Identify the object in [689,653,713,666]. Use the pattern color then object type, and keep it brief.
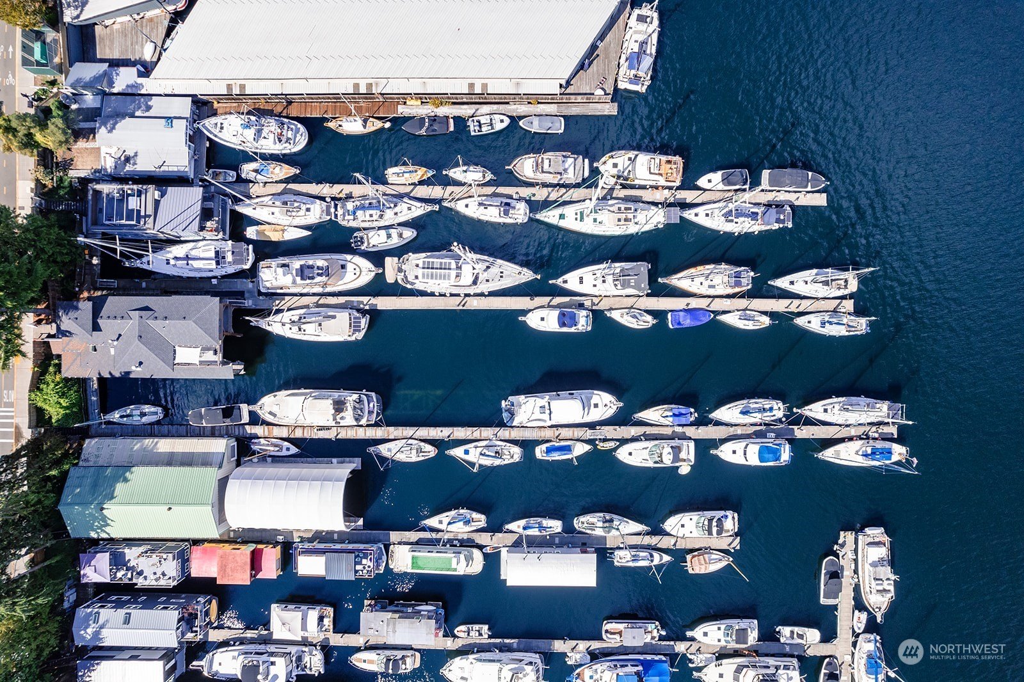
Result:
white boat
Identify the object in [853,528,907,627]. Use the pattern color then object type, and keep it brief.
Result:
white boat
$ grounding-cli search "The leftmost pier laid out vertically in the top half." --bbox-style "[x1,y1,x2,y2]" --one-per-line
[90,238,104,296]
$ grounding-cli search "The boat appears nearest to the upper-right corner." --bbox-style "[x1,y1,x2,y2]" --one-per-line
[760,169,830,193]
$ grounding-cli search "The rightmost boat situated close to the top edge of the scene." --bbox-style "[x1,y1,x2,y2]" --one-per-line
[616,0,666,93]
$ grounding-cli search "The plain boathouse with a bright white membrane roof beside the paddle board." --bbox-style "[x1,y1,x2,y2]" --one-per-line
[500,544,597,587]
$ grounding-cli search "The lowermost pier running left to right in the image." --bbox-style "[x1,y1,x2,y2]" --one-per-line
[212,628,840,658]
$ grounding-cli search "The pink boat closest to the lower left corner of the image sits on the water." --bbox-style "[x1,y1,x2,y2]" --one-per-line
[191,540,287,584]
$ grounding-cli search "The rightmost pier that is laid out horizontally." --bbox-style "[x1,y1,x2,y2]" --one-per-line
[588,425,897,442]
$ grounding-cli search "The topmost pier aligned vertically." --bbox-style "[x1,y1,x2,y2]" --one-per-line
[191,97,210,186]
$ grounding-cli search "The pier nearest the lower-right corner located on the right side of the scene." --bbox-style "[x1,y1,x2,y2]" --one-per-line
[833,529,860,682]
